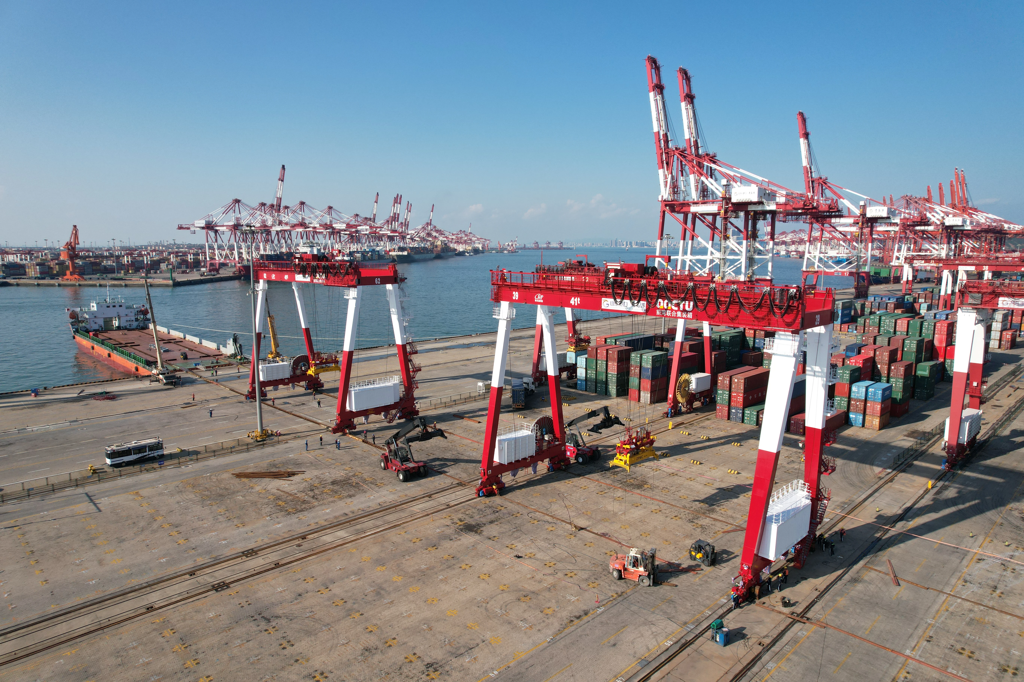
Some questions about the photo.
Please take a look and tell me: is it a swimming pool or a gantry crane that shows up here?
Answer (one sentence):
Of the two, only a gantry crane appears.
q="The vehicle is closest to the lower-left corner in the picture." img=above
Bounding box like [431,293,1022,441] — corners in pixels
[103,434,168,465]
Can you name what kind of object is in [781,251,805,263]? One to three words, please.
ship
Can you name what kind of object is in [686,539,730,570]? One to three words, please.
work vehicle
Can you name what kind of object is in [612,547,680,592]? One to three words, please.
work vehicle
